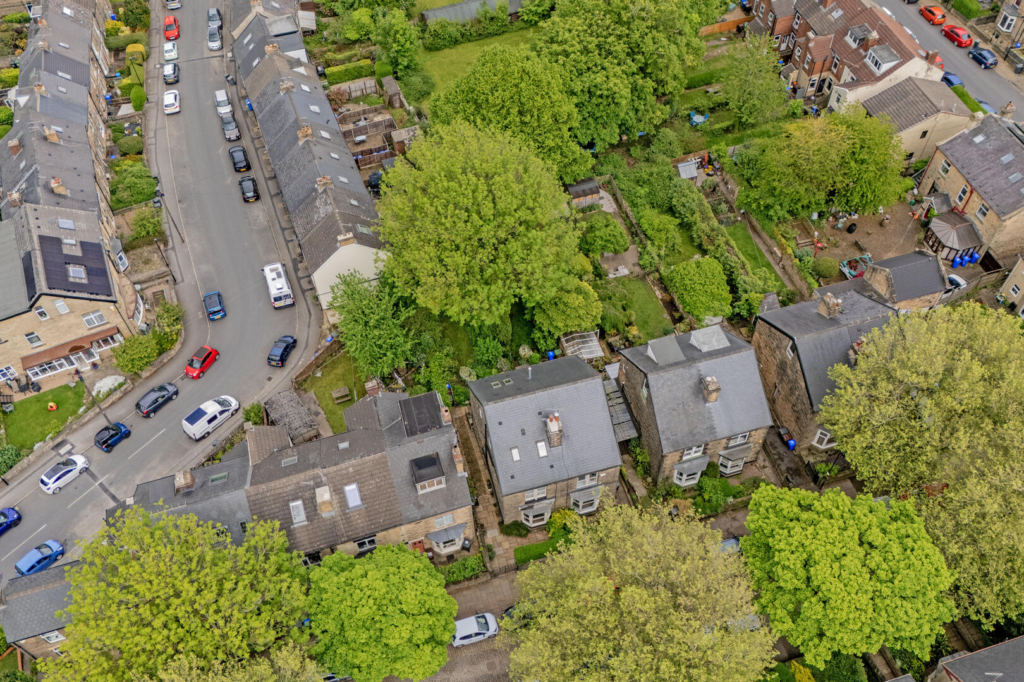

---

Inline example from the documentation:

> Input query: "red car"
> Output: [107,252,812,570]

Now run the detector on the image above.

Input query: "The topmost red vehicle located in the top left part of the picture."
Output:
[162,15,180,40]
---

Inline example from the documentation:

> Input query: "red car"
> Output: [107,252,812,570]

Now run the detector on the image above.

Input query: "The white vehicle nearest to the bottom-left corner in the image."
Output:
[38,456,91,495]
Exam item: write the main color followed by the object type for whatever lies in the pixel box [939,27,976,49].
red car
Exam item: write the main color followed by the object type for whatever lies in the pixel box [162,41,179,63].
white car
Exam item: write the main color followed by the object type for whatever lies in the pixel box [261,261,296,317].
white camper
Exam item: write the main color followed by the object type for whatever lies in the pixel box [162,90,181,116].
white car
